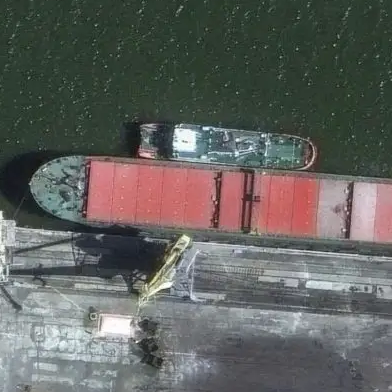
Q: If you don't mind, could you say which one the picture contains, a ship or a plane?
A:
ship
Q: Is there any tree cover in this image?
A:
No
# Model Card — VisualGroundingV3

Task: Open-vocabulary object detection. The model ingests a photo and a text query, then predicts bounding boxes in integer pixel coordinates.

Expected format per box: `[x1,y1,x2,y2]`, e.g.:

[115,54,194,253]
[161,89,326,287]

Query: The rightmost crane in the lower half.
[136,237,206,310]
